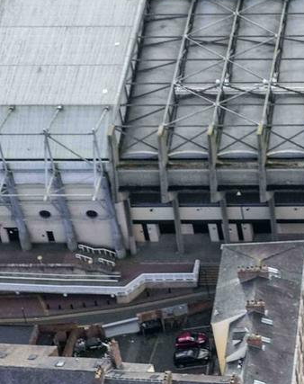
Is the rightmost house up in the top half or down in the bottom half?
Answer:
bottom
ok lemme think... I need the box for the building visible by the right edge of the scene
[211,238,304,384]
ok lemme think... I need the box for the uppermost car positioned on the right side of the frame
[171,329,209,349]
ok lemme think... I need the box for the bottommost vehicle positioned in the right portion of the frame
[171,345,209,366]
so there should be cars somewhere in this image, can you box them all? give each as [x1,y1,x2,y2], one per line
[171,329,209,349]
[171,345,209,366]
[79,338,110,357]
